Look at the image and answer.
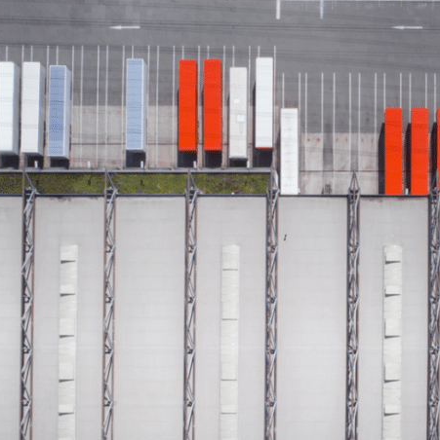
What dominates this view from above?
buildings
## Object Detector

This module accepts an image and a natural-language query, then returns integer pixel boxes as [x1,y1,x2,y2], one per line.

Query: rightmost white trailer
[280,107,298,193]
